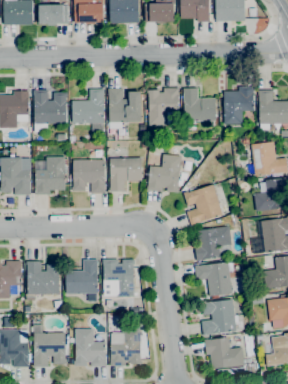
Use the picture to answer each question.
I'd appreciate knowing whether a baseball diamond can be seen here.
No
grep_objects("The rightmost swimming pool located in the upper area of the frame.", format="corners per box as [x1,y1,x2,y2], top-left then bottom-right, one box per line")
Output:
[180,146,202,160]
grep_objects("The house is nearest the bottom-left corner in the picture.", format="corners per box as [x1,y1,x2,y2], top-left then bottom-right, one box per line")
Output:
[0,329,29,366]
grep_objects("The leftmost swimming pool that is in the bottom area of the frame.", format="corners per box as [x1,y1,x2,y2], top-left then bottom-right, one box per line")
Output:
[45,317,66,330]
